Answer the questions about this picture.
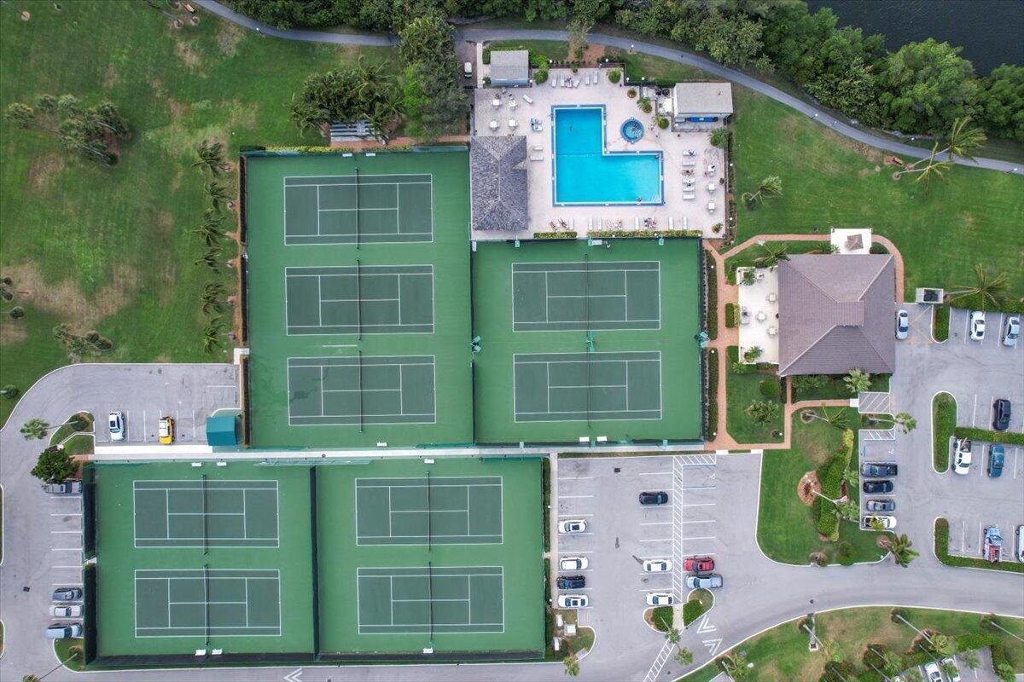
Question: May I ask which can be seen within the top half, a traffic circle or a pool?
pool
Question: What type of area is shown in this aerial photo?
sports ground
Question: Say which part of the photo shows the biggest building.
right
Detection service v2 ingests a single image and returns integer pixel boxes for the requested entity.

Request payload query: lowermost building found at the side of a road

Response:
[778,253,896,376]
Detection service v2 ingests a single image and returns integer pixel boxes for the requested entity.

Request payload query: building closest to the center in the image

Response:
[471,132,528,230]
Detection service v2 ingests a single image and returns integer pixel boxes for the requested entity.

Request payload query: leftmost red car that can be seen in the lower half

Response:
[682,557,714,572]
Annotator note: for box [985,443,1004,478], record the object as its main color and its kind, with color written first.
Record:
blue car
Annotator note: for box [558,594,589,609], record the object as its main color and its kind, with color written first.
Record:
white car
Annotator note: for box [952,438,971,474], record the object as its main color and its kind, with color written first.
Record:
white vehicle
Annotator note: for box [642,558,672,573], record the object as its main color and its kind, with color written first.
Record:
white car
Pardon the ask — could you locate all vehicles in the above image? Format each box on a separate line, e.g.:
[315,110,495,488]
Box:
[894,309,910,339]
[110,411,127,440]
[558,594,589,609]
[686,572,723,589]
[864,499,895,513]
[638,491,668,505]
[558,519,587,534]
[682,557,714,572]
[985,443,1004,478]
[982,525,1002,562]
[952,438,971,474]
[967,311,985,340]
[157,415,175,444]
[45,622,83,639]
[645,591,673,607]
[1001,316,1019,347]
[51,603,84,619]
[859,463,898,478]
[54,586,85,602]
[556,574,586,590]
[924,660,944,682]
[642,558,672,573]
[861,480,892,494]
[992,399,1010,430]
[464,64,472,80]
[559,556,588,571]
[44,480,83,496]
